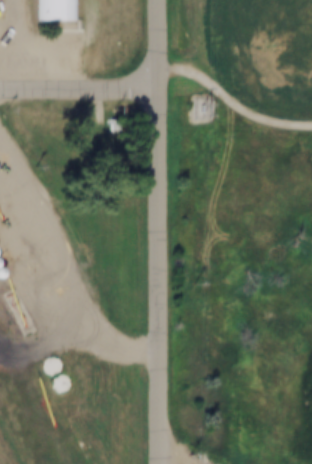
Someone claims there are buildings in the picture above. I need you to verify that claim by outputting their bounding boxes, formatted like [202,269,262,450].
[104,118,122,136]
[37,0,79,23]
